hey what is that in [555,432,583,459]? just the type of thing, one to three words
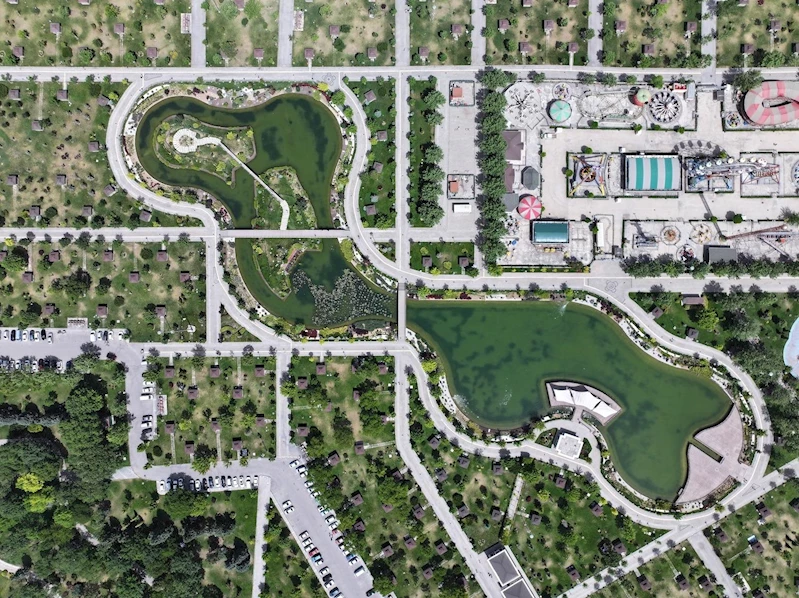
building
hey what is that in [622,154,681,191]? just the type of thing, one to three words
building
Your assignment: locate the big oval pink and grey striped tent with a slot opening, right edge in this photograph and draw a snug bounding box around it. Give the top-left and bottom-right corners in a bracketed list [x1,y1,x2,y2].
[737,81,799,129]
